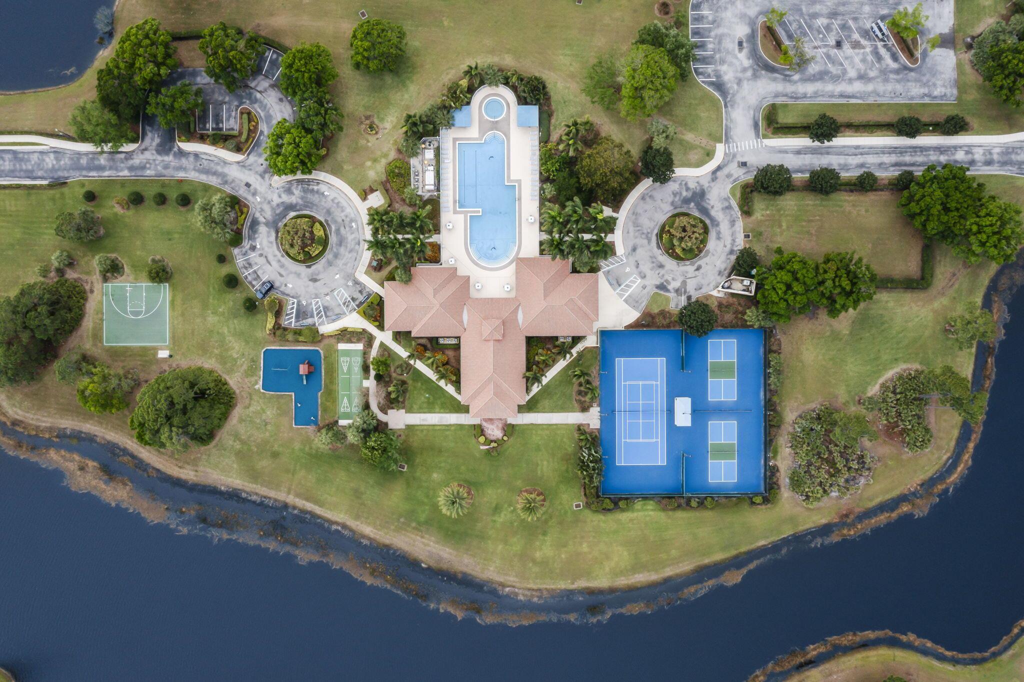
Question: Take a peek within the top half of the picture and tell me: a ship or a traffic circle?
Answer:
traffic circle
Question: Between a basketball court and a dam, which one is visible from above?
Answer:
basketball court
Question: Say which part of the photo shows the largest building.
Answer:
center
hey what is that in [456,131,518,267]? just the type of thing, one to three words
swimming pool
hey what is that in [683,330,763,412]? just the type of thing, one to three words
sports court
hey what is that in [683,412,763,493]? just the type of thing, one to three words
sports court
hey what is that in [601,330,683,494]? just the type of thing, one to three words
tennis court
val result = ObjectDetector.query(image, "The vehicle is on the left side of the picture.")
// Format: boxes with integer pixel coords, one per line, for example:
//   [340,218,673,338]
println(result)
[255,280,275,299]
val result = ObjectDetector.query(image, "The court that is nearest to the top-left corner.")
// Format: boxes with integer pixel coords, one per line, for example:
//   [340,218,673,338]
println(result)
[103,283,169,346]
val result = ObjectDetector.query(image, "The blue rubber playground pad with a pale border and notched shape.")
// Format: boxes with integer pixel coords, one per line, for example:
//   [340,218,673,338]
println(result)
[260,347,324,427]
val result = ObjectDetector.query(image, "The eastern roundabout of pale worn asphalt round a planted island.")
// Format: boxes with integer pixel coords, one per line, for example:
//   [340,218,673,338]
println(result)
[623,176,742,297]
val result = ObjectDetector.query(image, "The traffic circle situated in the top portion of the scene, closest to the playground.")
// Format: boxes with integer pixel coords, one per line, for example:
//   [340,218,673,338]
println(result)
[243,179,364,300]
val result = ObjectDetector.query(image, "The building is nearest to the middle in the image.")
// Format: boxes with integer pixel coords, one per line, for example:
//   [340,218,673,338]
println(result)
[384,257,599,418]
